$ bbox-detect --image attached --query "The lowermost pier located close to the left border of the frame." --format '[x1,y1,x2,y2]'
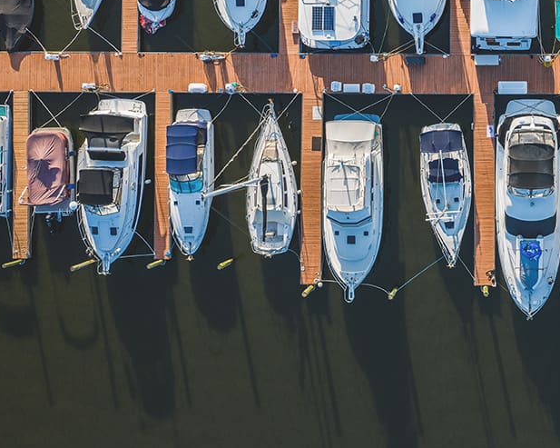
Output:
[12,91,32,259]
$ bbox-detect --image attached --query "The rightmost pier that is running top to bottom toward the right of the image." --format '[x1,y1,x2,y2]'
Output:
[474,93,496,286]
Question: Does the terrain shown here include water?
Yes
